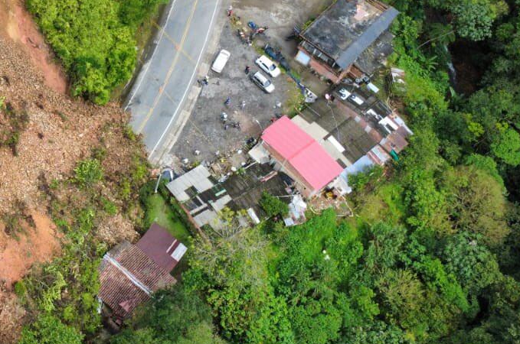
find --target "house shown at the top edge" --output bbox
[296,0,400,87]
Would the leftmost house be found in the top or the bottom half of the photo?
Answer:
bottom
